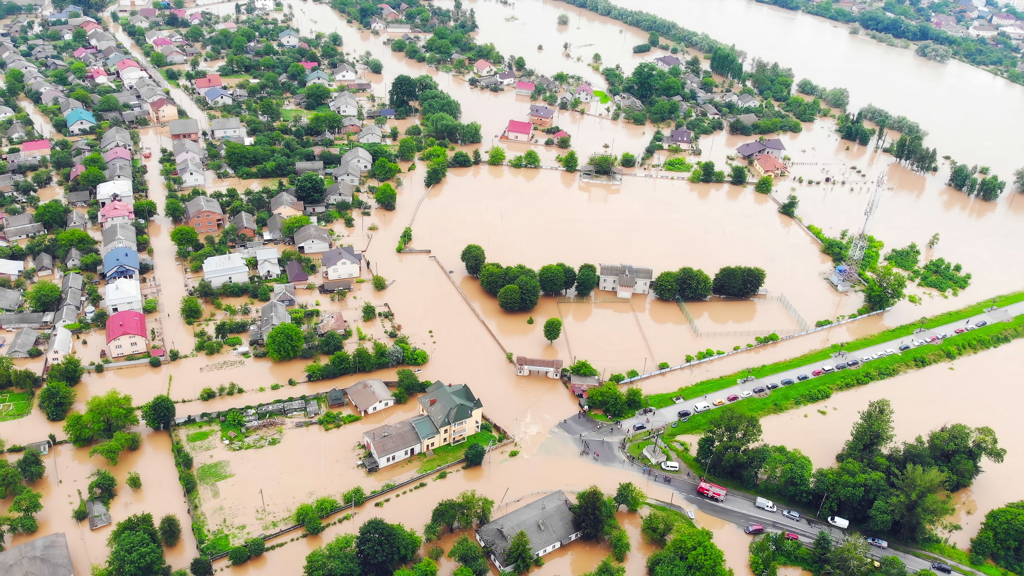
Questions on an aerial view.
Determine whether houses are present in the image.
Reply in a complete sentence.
Yes, there is a house in the image.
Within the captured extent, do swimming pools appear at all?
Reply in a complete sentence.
No, no swimming pool can be seen from above.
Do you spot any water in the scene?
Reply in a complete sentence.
Yes, the picture does contain water.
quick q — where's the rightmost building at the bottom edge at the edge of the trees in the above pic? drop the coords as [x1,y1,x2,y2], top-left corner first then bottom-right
[472,495,580,575]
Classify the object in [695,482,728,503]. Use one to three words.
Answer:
truck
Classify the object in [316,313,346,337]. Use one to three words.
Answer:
shed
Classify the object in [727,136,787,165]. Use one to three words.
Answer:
house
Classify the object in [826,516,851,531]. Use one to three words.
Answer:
vehicle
